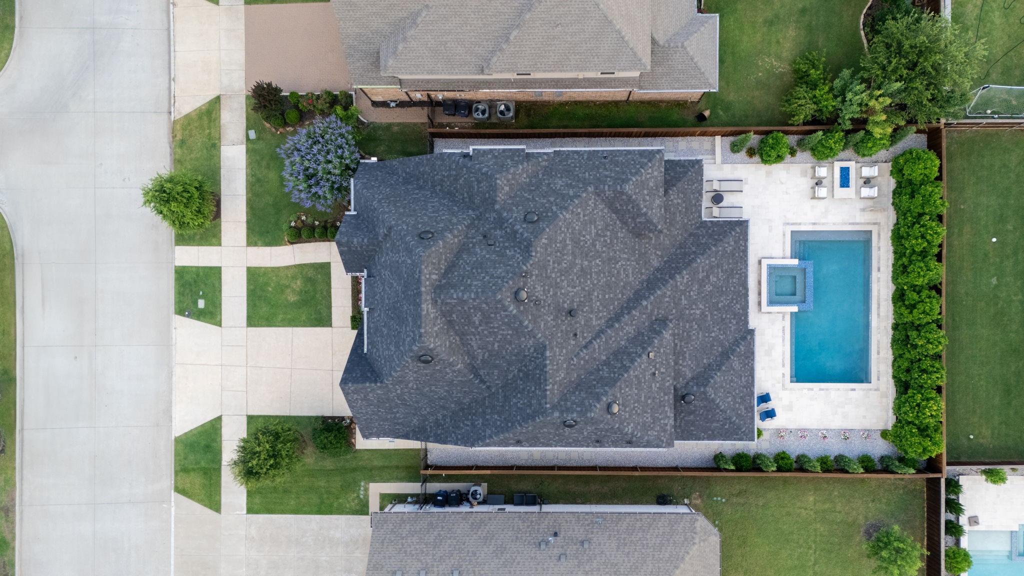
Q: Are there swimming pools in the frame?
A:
Yes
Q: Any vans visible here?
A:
No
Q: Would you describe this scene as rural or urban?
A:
urban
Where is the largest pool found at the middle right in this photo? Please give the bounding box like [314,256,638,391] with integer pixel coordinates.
[783,222,880,392]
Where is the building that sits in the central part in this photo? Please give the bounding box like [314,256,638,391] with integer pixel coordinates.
[335,146,757,450]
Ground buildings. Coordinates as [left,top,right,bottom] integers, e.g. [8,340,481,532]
[366,496,723,576]
[335,146,757,450]
[332,0,721,105]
